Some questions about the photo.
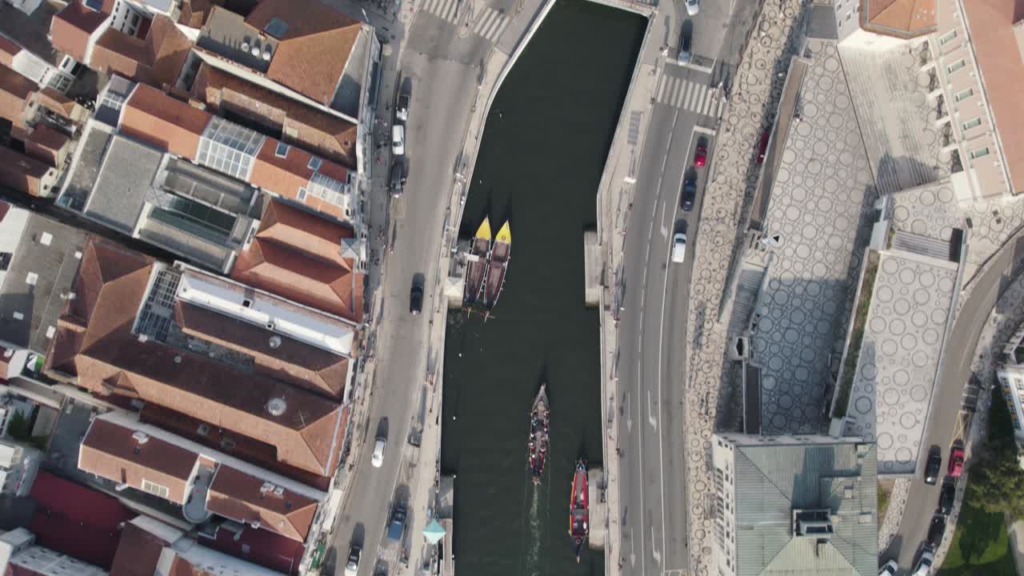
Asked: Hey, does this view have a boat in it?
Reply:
Yes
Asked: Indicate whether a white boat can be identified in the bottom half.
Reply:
No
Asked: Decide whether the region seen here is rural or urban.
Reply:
urban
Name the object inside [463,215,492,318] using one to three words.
boat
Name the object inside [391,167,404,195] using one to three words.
vehicle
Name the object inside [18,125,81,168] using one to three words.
house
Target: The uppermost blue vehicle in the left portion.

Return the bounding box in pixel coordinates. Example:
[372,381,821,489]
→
[388,509,404,539]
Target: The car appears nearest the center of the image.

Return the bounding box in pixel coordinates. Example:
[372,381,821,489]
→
[410,287,423,313]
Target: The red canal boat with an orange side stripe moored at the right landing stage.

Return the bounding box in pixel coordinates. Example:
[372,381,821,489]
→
[569,458,588,565]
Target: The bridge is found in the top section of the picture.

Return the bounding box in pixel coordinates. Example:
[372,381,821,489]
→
[586,0,659,30]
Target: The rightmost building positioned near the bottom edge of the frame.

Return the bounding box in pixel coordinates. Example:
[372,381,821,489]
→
[712,431,877,576]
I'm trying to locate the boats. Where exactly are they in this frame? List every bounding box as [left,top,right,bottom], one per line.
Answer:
[481,219,512,321]
[463,215,492,318]
[527,384,549,490]
[569,458,588,565]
